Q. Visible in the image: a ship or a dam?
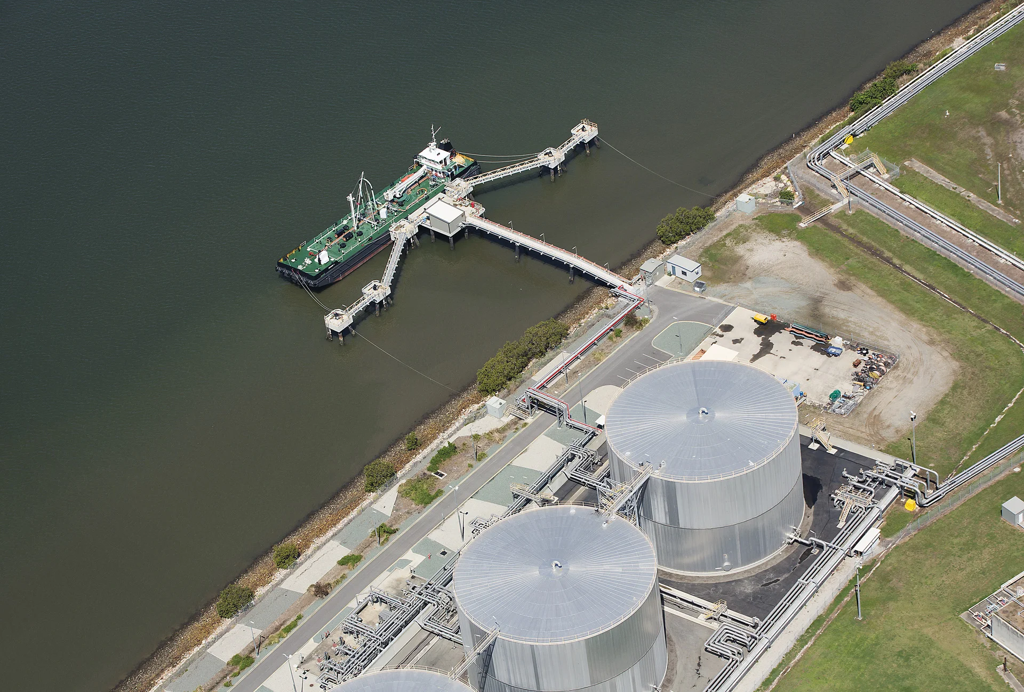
ship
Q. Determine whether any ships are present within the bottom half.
No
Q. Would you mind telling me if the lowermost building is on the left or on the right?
right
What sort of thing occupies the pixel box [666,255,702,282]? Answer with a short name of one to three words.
building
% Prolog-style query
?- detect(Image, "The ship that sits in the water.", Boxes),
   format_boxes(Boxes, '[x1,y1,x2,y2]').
[281,116,481,285]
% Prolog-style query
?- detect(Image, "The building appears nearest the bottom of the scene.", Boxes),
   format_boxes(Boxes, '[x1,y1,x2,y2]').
[992,587,1024,657]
